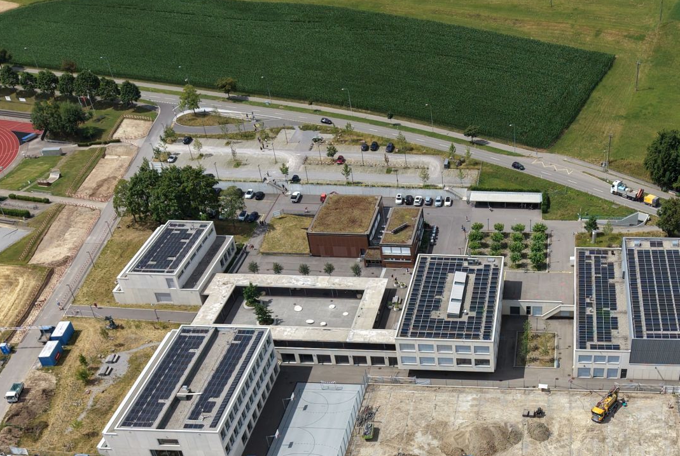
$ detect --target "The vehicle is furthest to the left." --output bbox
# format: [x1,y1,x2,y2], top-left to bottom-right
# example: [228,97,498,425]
[1,377,23,396]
